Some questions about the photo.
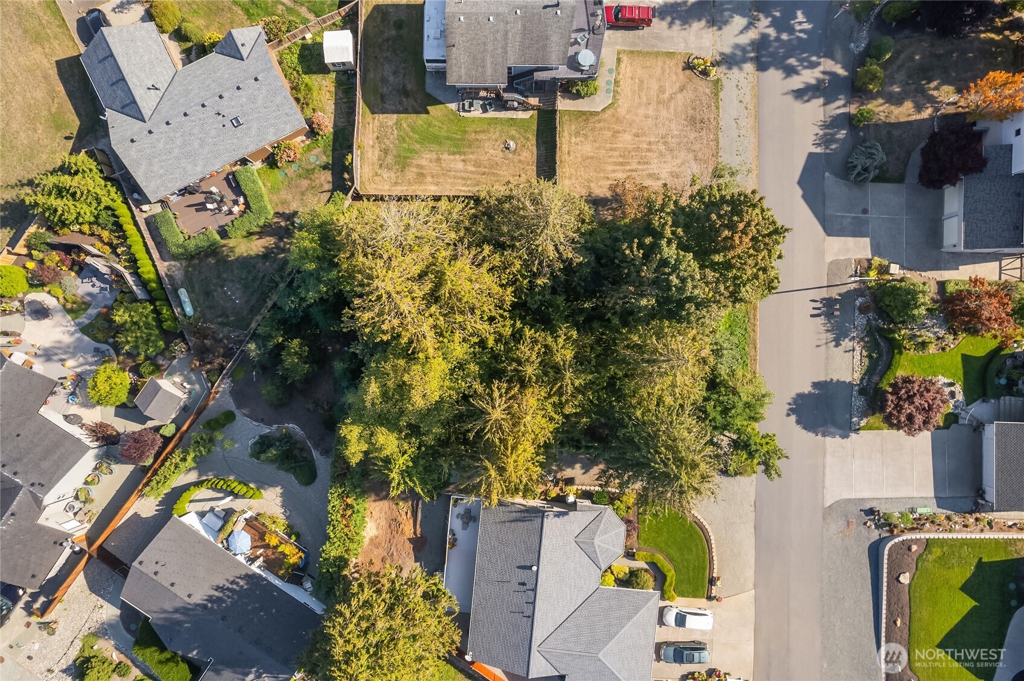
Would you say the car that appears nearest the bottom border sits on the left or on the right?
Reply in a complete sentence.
You can find the car that appears nearest the bottom border on the right side of the picture.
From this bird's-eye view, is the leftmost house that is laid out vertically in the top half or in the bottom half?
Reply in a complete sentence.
The leftmost house that is laid out vertically sits in the bottom half of the picture.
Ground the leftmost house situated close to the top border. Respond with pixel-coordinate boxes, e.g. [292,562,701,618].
[79,21,310,204]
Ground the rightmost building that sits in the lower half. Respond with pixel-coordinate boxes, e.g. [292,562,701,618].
[981,421,1024,511]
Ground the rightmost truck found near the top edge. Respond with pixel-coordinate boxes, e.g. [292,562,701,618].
[595,5,660,34]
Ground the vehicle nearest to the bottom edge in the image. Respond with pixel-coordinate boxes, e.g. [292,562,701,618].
[659,638,709,665]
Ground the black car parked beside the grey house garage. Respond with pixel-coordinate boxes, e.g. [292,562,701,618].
[79,4,109,39]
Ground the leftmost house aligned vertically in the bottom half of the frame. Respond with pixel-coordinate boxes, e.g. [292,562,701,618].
[0,350,105,590]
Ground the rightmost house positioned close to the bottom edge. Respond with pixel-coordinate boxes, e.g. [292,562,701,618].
[465,498,660,681]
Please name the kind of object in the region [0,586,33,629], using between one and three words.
car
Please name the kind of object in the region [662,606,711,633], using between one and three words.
car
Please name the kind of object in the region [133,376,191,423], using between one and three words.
shed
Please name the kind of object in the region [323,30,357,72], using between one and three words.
shed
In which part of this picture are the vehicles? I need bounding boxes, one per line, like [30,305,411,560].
[0,586,33,629]
[659,638,709,665]
[425,0,444,72]
[595,5,660,34]
[79,4,109,39]
[662,606,711,633]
